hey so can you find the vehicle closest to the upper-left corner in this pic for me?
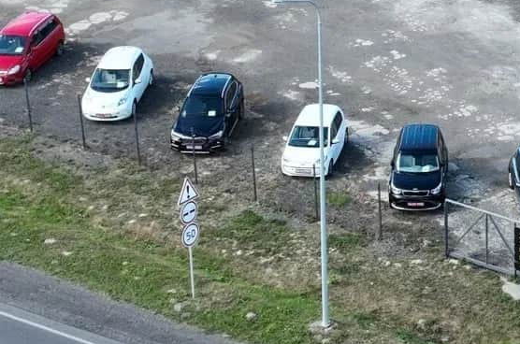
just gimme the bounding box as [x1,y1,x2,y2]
[0,7,65,83]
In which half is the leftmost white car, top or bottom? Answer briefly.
top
